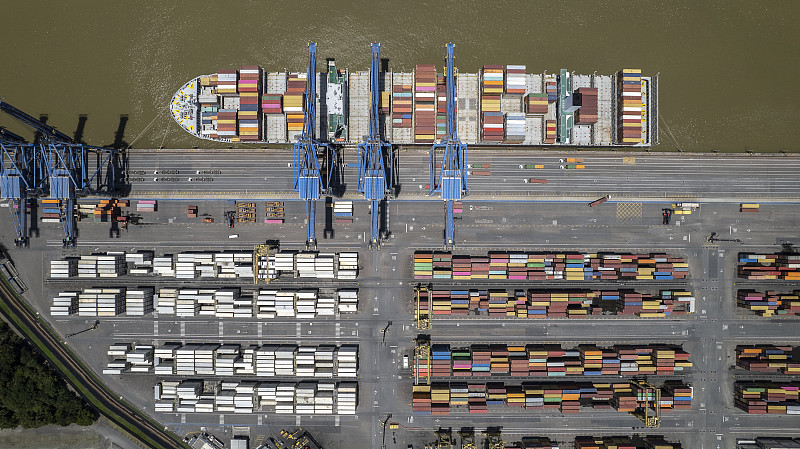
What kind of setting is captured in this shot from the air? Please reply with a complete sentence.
This looks like a port.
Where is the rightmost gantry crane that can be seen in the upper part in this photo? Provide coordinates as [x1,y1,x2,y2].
[423,43,470,251]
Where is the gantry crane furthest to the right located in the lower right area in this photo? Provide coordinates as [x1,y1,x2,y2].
[635,375,662,426]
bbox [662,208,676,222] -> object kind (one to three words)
work vehicle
